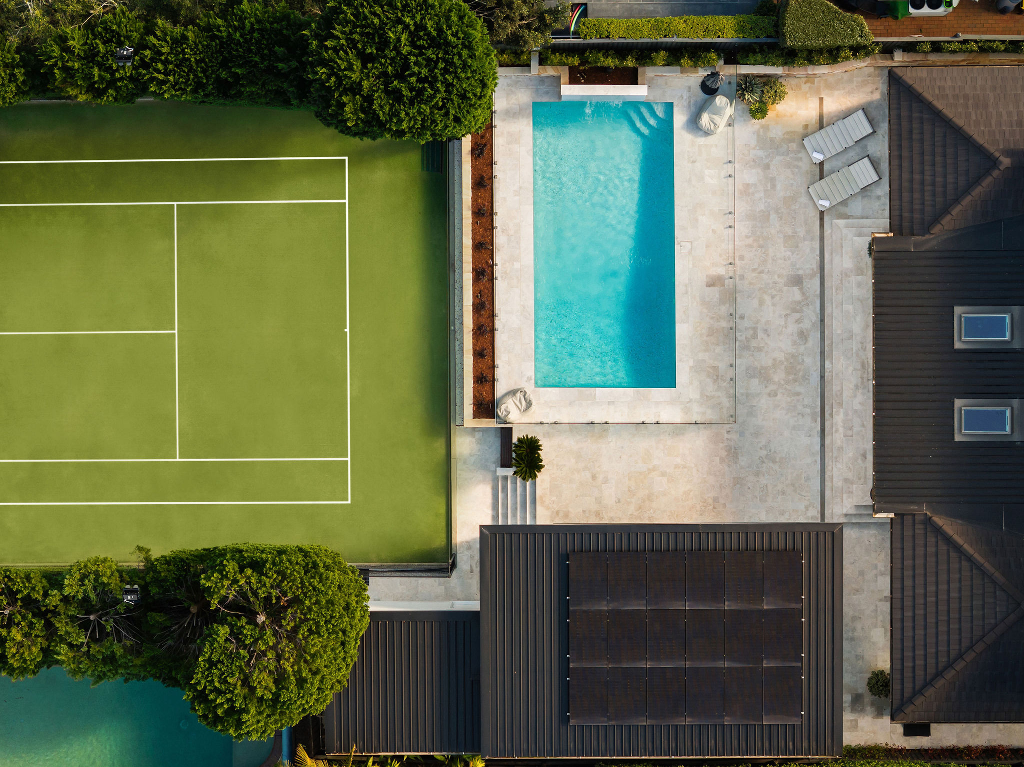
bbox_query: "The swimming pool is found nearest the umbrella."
[520,89,687,400]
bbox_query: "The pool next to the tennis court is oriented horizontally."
[0,650,273,767]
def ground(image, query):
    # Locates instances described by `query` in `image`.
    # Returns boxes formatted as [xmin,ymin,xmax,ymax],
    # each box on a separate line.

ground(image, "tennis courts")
[0,100,448,565]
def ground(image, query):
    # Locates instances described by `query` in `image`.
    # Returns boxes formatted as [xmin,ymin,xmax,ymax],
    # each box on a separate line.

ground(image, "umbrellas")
[701,67,724,95]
